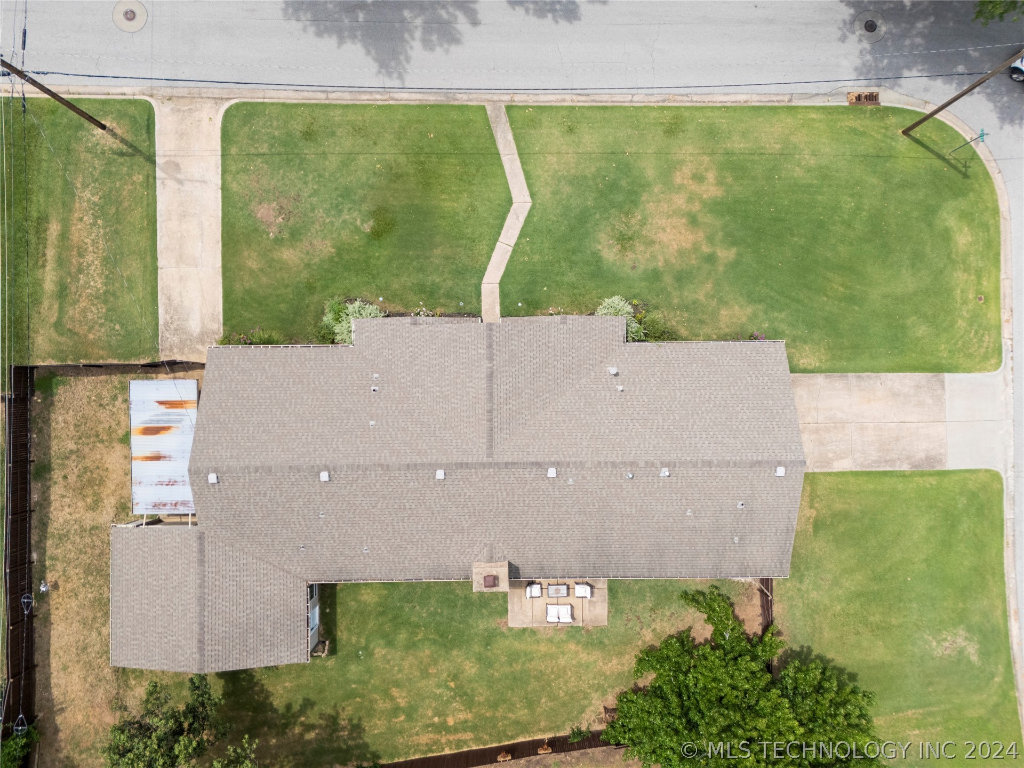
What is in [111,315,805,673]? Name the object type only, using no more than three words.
house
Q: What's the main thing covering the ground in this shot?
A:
grass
